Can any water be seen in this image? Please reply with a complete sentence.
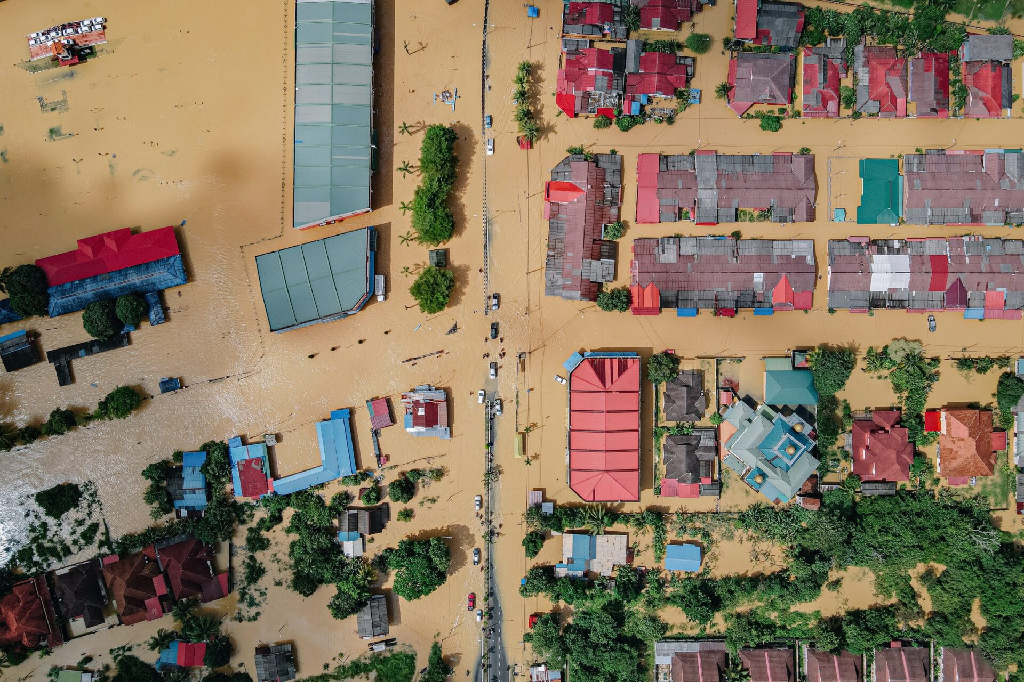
Yes, water shows up in the scene.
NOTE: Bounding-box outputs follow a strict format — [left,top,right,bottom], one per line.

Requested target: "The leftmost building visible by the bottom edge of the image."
[0,575,69,649]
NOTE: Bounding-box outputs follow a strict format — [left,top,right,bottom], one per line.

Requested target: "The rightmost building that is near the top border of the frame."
[953,32,1012,119]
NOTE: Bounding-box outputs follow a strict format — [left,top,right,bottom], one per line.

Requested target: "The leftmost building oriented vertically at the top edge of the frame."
[294,0,378,235]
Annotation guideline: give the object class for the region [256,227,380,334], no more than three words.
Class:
building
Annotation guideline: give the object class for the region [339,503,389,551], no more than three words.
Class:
house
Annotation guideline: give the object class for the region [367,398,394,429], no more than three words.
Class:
shed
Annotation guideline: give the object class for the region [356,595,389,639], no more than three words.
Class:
house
